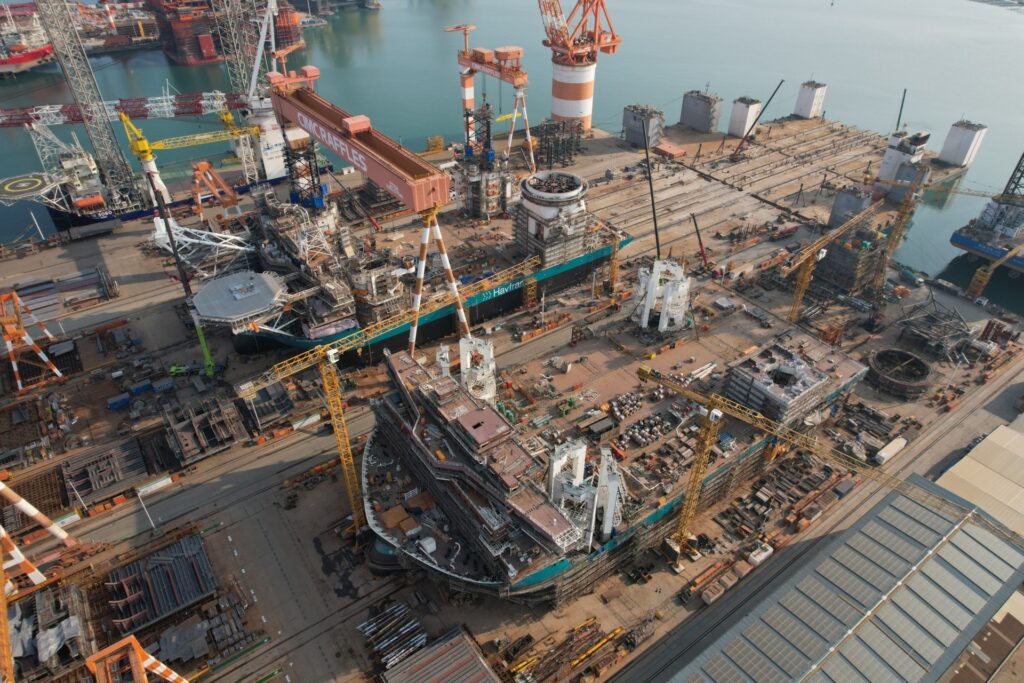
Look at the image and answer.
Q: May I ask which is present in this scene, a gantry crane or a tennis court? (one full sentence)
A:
The image shows a gantry crane.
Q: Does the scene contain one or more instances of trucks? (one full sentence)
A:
Yes, there's a truck down there.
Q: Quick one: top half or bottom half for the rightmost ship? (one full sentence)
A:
The top half of the photo is where the rightmost ship is.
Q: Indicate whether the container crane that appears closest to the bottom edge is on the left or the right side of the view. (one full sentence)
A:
The container crane that appears closest to the bottom edge sits on the left side.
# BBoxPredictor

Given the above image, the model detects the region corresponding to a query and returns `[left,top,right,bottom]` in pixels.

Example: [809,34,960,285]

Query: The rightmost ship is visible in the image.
[934,131,1024,288]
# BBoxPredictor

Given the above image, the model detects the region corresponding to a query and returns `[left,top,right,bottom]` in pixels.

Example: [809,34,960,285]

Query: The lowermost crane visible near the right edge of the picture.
[635,369,1024,572]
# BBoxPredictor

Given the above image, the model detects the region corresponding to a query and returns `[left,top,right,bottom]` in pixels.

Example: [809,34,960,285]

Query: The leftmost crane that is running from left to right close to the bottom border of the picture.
[75,624,208,683]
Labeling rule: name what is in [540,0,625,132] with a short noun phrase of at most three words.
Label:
crane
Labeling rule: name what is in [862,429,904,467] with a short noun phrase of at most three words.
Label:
truck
